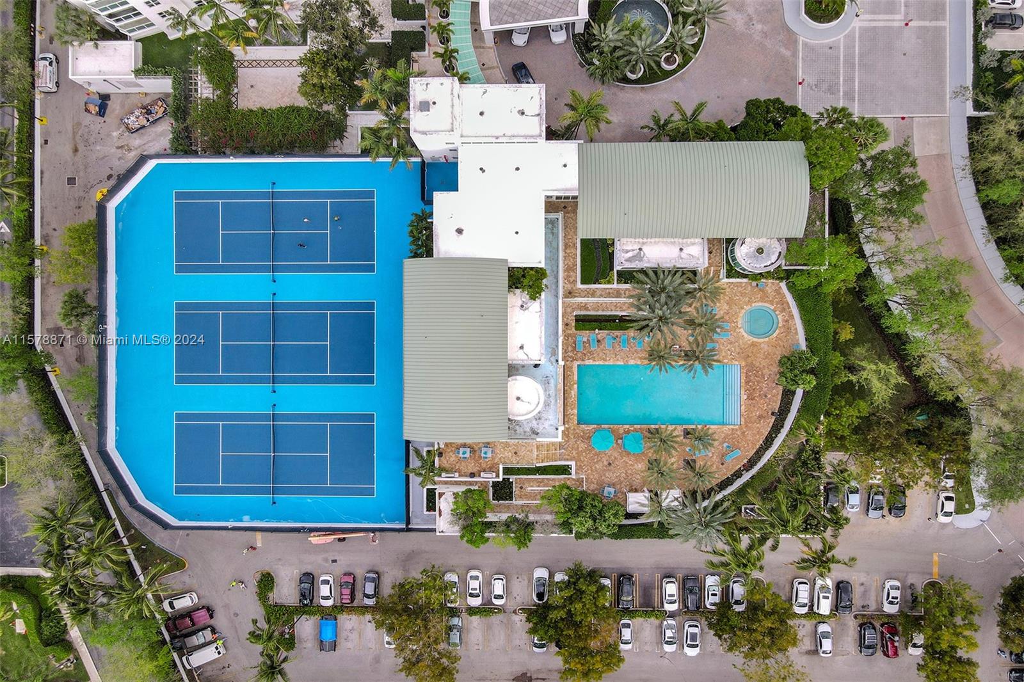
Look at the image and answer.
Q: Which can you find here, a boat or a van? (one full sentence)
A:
Looking from above, you can make out a van.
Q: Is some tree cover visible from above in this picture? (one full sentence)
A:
Yes, the picture does contain tree cover.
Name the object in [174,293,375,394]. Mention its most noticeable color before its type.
blue tennis court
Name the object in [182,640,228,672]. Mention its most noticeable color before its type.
white van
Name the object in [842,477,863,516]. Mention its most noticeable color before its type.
white car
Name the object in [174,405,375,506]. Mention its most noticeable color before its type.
blue tennis court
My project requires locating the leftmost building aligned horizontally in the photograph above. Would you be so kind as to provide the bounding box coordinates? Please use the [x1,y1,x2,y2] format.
[68,41,171,91]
